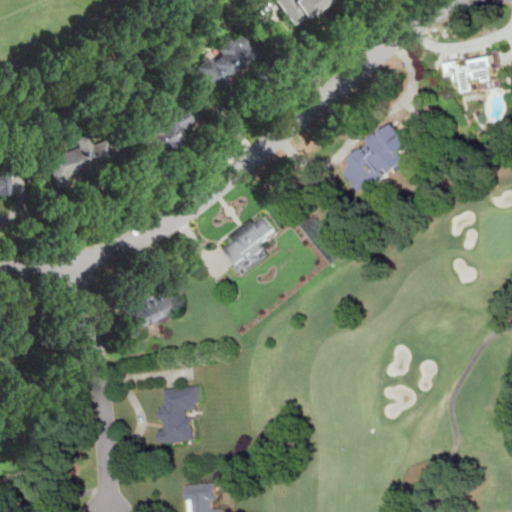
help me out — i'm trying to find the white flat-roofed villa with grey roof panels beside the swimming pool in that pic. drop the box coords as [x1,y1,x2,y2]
[441,57,492,95]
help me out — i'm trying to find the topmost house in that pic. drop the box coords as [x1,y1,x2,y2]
[274,0,334,28]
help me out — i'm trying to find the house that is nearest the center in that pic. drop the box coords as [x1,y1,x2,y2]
[218,214,277,265]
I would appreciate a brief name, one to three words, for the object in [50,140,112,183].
house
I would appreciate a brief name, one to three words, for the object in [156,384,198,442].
house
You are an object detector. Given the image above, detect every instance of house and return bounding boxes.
[0,176,12,196]
[340,129,402,187]
[138,294,180,332]
[441,57,492,95]
[274,0,334,28]
[156,384,198,442]
[184,486,222,512]
[164,112,197,148]
[218,214,277,265]
[50,140,112,183]
[200,35,256,82]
